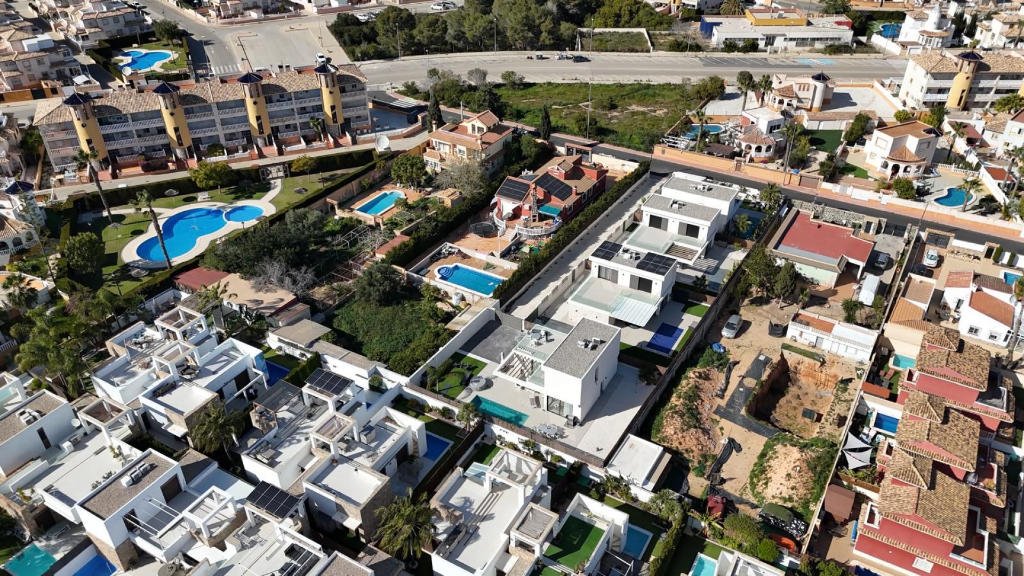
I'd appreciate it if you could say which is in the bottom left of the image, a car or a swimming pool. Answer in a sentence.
What appears in the bottom left of the image is a swimming pool.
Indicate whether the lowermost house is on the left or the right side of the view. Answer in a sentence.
The lowermost house appears in the right half of the scene.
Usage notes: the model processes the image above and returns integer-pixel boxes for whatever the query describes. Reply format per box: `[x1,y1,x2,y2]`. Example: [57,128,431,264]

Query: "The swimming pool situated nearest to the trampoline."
[434,262,497,288]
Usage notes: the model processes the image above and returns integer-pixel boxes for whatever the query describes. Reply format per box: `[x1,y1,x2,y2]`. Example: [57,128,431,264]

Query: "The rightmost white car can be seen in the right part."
[923,245,941,266]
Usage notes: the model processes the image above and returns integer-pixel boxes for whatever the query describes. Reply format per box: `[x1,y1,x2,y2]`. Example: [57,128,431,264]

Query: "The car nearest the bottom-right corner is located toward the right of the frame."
[758,495,809,535]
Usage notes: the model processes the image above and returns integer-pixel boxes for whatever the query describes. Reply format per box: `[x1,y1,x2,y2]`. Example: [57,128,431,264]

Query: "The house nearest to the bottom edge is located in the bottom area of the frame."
[716,536,791,576]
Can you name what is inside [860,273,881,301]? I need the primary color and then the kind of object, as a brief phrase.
white vehicle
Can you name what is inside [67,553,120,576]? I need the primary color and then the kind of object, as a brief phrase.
blue swimming pool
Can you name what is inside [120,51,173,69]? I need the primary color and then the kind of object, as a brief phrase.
blue swimming pool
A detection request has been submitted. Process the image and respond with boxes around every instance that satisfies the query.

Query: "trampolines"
[470,216,494,234]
